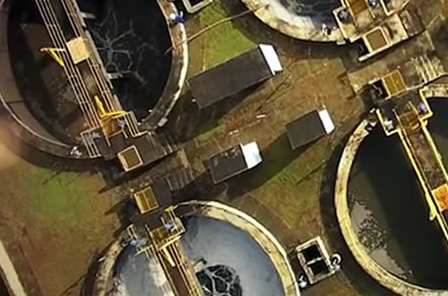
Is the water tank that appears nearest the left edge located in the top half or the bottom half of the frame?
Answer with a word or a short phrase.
top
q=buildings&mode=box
[209,142,259,185]
[188,47,282,108]
[285,109,331,150]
